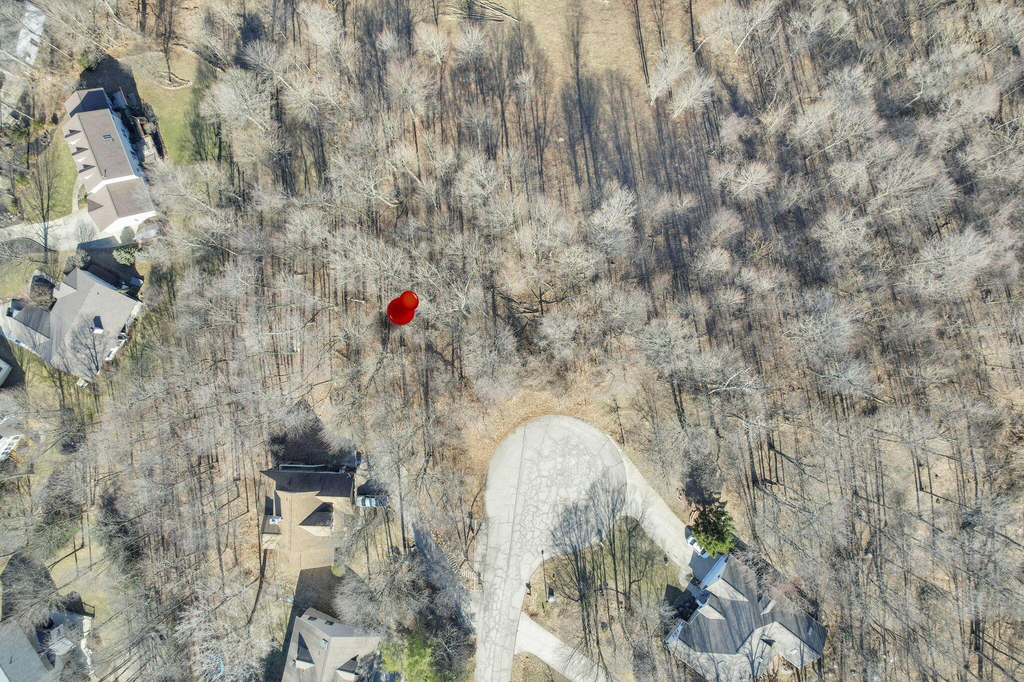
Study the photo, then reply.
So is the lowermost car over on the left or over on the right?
right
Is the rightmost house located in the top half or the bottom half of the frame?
bottom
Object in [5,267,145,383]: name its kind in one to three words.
house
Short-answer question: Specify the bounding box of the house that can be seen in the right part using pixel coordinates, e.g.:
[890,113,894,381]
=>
[666,552,830,682]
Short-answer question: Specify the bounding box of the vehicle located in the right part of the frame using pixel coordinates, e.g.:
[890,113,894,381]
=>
[684,534,709,558]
